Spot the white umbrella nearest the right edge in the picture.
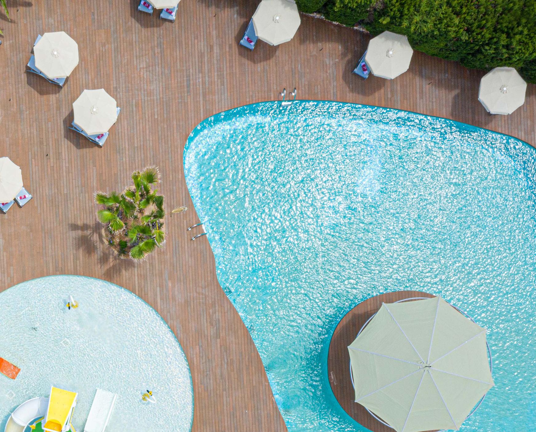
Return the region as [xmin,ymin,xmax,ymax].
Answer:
[478,67,526,116]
